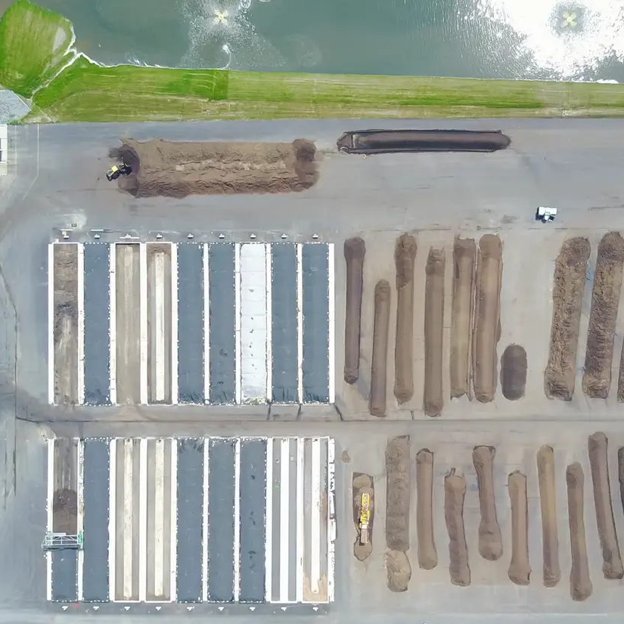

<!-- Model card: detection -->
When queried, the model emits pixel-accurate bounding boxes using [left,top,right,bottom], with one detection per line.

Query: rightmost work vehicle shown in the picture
[538,207,559,220]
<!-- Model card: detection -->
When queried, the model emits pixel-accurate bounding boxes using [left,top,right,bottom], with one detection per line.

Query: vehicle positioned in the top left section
[104,162,126,178]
